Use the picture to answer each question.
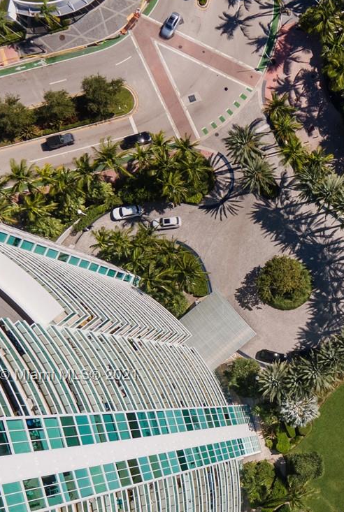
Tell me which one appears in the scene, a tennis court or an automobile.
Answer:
automobile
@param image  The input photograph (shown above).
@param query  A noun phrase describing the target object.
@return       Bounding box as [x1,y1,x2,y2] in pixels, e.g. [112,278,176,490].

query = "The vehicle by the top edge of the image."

[162,9,182,41]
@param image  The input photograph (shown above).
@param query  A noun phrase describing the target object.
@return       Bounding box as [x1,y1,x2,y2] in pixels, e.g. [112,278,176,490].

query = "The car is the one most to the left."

[44,132,76,150]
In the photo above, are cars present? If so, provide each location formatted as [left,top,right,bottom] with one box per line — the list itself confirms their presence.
[151,215,181,228]
[121,132,154,150]
[111,204,143,221]
[44,132,76,150]
[162,9,182,41]
[254,348,286,362]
